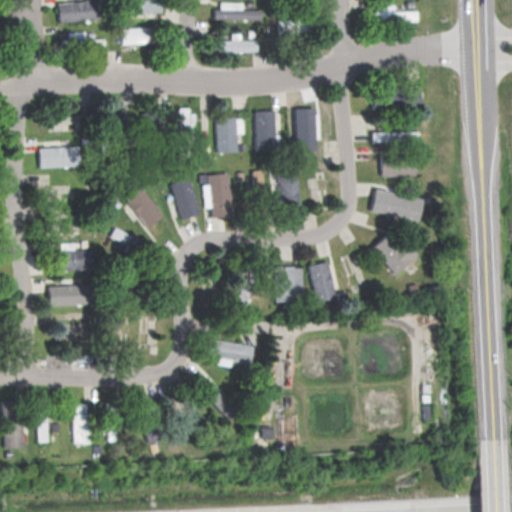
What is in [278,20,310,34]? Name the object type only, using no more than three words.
house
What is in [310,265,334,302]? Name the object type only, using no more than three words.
house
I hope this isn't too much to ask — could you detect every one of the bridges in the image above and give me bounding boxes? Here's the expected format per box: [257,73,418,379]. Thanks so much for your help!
[478,440,511,512]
